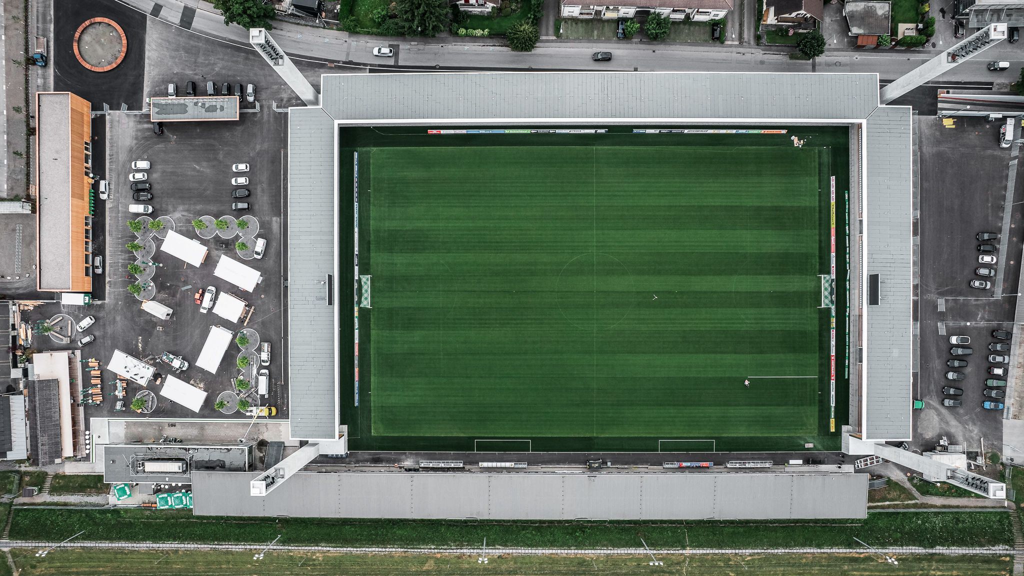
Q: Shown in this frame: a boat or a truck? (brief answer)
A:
truck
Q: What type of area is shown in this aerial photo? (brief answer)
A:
sports ground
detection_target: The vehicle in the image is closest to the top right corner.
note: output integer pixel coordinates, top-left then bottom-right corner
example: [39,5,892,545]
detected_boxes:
[1007,27,1020,45]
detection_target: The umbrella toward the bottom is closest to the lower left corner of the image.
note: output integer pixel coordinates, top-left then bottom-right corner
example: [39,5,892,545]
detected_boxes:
[114,483,132,501]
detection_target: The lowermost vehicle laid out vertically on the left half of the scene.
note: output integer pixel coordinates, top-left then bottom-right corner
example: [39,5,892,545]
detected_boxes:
[257,371,269,399]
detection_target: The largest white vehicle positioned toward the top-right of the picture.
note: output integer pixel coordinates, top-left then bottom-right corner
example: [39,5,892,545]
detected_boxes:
[1000,118,1017,148]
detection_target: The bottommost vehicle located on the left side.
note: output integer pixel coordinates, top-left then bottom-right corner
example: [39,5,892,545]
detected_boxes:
[238,402,276,443]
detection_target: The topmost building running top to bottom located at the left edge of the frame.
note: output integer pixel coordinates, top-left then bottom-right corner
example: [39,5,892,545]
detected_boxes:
[35,92,92,292]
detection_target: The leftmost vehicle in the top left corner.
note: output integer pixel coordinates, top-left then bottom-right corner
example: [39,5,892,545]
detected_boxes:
[33,35,48,67]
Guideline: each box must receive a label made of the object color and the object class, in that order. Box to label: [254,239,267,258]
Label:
white vehicle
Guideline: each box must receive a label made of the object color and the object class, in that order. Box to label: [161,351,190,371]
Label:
white vehicle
